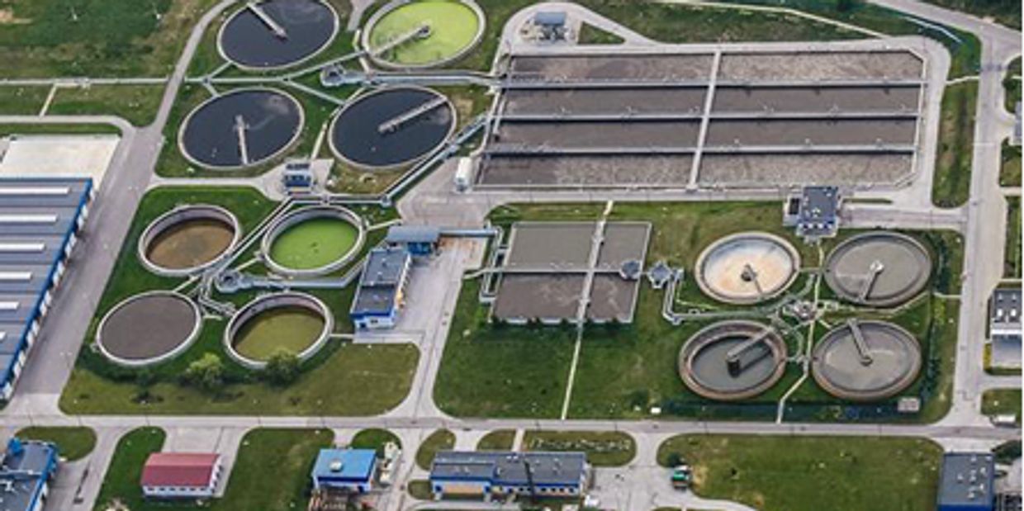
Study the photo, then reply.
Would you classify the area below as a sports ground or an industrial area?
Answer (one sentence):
It's an industrial area.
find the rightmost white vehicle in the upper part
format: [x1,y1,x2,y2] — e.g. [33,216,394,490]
[458,154,474,184]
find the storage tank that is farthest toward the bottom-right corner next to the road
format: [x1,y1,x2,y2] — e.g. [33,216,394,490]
[811,319,922,402]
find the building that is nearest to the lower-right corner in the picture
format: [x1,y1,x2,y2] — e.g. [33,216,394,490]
[938,452,995,511]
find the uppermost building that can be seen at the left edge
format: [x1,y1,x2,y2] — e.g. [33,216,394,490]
[0,176,98,414]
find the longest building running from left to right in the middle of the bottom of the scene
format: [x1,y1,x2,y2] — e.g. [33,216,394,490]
[429,449,588,502]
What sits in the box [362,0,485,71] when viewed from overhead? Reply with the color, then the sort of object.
green storage tank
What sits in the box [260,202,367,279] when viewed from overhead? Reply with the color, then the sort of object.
green storage tank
